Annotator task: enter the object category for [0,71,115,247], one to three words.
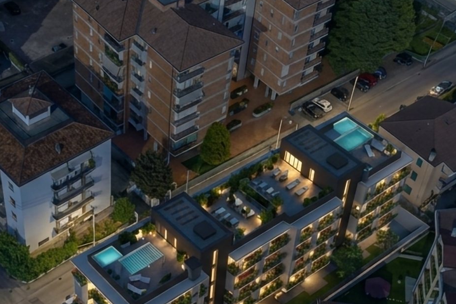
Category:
house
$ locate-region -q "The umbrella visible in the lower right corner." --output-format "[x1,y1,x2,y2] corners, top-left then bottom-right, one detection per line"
[363,278,389,299]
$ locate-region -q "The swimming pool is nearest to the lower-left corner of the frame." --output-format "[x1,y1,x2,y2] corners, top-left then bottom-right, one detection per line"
[92,243,125,268]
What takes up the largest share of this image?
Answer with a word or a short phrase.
buildings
